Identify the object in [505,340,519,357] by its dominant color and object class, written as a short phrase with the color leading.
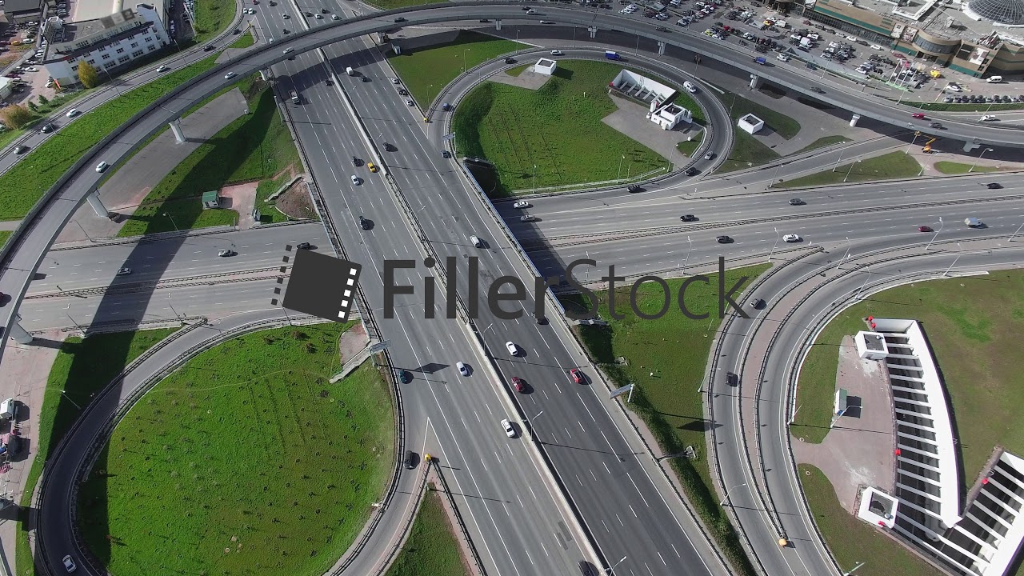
white car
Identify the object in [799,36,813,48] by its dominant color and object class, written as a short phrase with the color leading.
white vehicle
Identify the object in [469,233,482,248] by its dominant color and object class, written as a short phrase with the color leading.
white vehicle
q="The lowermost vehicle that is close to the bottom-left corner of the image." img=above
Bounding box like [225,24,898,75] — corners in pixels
[60,552,79,574]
